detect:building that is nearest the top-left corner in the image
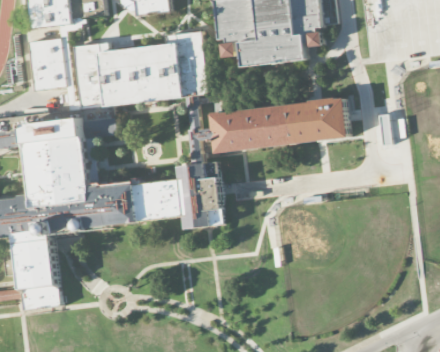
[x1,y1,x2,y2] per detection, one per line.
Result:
[30,0,76,28]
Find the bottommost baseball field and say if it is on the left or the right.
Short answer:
right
